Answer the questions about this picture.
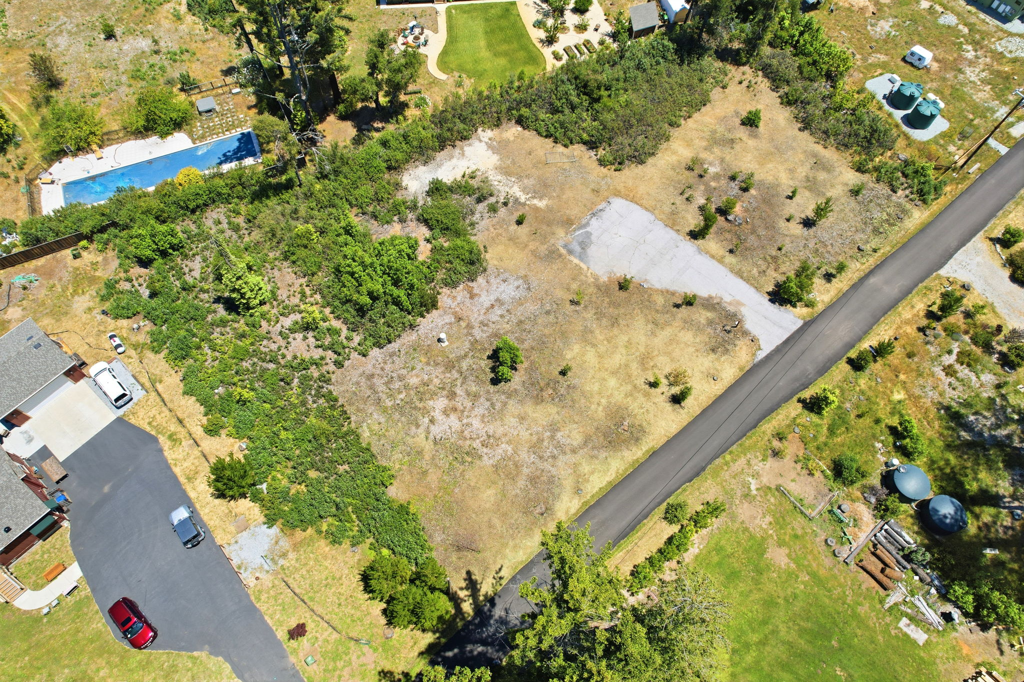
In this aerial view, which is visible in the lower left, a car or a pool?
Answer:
car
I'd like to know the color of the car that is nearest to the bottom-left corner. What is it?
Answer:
red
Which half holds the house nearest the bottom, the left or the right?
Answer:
left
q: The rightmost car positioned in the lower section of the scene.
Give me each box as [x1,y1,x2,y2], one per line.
[166,500,205,551]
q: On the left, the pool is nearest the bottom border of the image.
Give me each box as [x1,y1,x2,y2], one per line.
[60,128,258,207]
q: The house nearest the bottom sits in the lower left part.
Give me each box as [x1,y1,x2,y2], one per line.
[0,447,70,569]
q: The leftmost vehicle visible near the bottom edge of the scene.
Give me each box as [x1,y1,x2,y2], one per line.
[105,592,154,654]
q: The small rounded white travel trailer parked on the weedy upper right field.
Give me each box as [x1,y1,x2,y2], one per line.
[906,44,936,69]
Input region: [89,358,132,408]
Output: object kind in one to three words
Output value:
car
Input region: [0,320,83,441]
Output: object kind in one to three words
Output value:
house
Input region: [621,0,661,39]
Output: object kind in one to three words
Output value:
shed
